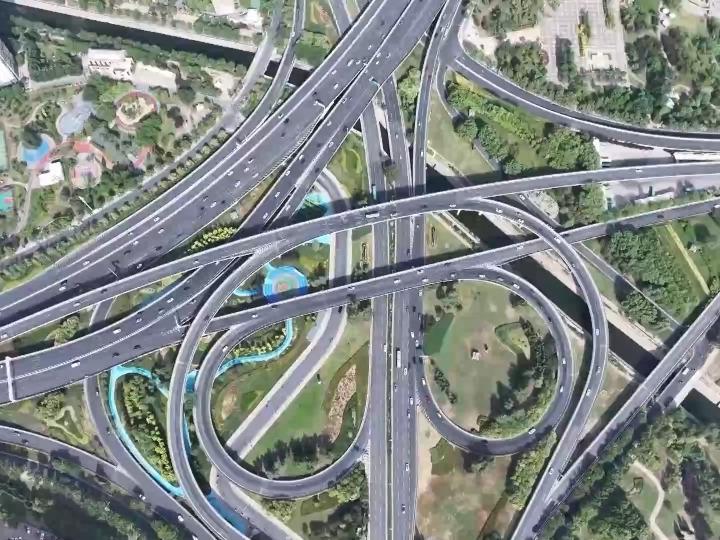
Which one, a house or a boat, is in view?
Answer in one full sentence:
This aerial view contains a house.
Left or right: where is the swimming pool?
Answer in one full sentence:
The swimming pool appears in the left half of the scene.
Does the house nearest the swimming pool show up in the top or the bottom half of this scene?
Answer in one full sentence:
Seen from above, the house nearest the swimming pool lies in the top half of the view.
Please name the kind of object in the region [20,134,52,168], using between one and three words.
swimming pool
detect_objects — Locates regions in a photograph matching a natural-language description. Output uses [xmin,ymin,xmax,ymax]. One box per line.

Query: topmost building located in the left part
[231,7,263,33]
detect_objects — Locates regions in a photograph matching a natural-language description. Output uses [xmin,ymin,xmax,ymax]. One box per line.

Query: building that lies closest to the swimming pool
[39,162,68,188]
